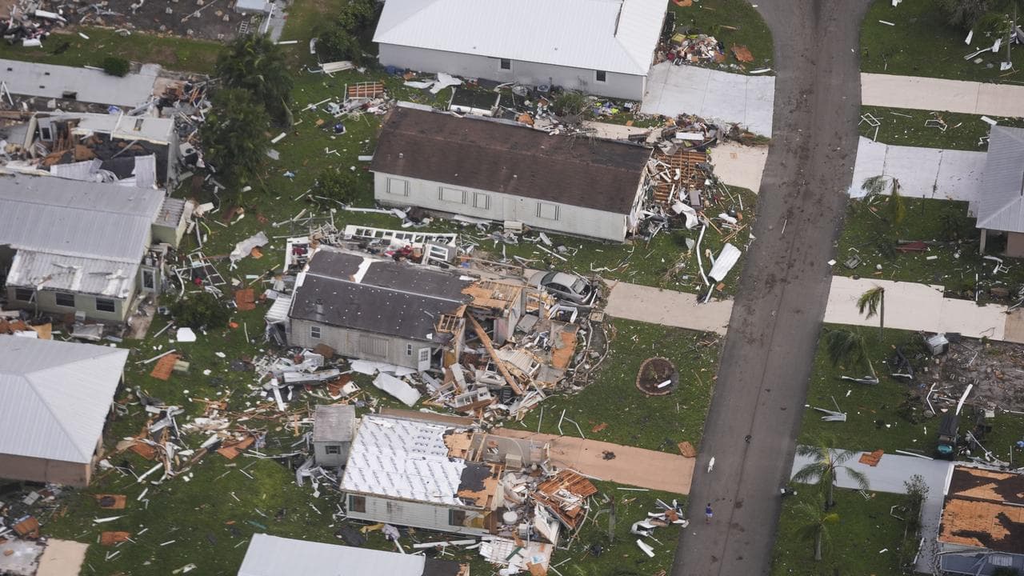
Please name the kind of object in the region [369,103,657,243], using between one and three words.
house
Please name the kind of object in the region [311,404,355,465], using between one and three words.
shed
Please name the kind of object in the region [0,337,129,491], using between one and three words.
house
